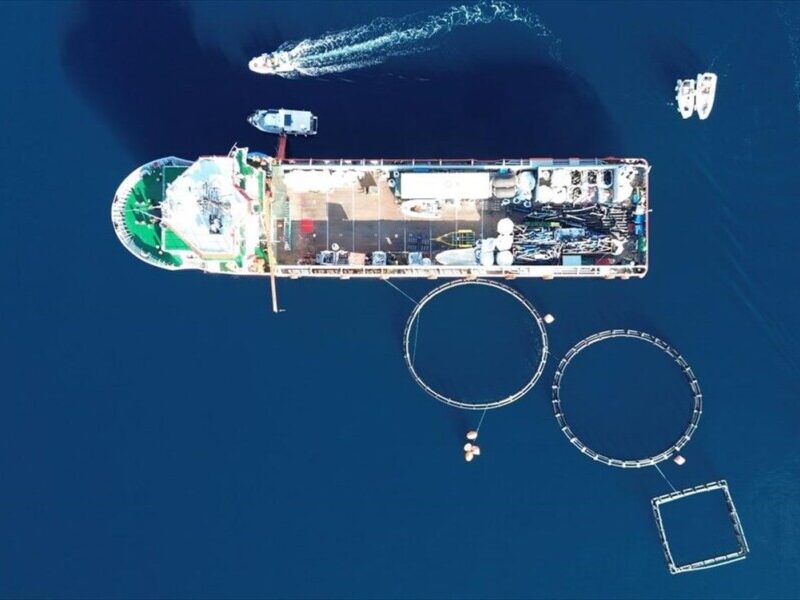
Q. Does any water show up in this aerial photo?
Yes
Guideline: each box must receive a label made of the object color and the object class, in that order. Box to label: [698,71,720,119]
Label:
white boat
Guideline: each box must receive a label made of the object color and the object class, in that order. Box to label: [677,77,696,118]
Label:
white boat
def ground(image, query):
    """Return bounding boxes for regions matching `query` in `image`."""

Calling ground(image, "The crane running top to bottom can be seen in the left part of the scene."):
[258,189,284,312]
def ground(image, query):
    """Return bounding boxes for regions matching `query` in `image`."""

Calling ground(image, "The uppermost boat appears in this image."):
[248,51,296,72]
